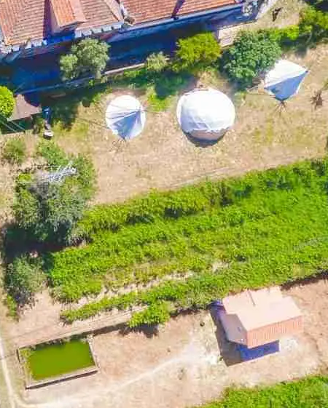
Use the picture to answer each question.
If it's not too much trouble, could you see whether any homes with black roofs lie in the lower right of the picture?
No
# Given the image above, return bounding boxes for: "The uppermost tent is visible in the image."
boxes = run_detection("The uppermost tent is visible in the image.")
[255,53,312,102]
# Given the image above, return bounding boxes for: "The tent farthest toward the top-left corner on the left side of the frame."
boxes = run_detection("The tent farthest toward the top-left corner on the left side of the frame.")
[97,94,154,147]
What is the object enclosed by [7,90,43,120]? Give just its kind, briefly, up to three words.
shed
